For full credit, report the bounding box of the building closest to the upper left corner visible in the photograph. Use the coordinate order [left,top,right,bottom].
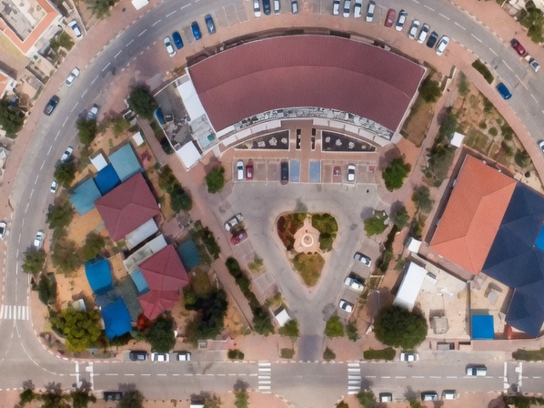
[0,0,72,60]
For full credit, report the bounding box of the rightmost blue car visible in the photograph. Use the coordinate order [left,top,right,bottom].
[496,81,511,100]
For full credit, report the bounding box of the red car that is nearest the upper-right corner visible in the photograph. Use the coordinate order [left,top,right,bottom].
[511,39,525,56]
